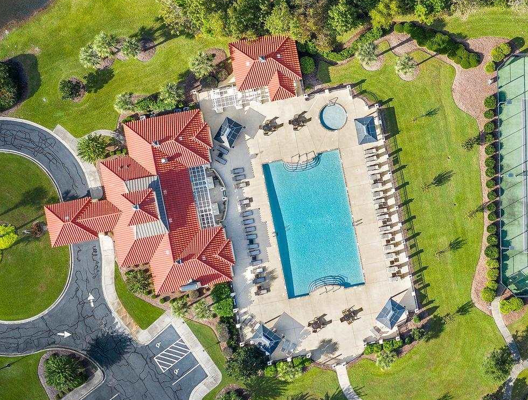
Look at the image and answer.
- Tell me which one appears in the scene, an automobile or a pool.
pool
